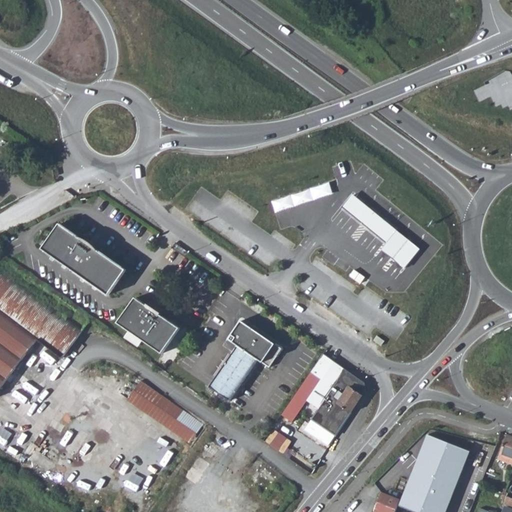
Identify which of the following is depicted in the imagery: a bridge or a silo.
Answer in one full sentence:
Looking from above, you can make out a bridge.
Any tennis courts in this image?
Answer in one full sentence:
No, I can't see a single tennis court in this photo.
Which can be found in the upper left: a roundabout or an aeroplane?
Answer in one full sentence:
The feature located in the upper left is a roundabout.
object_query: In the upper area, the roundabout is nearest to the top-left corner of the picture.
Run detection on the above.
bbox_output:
[60,78,166,179]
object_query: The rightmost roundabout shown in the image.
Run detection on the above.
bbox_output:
[463,161,512,313]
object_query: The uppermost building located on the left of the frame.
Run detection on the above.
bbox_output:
[38,223,124,296]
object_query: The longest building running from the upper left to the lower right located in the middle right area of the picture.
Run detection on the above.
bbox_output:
[342,194,420,268]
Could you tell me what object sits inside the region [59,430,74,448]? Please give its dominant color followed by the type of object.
white camper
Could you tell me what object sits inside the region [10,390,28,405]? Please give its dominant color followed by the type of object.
white camper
